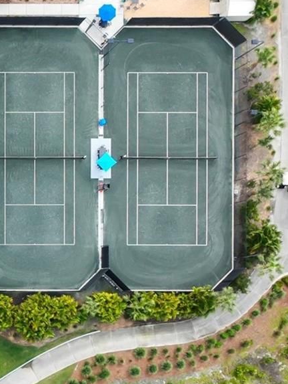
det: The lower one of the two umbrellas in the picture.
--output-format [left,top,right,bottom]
[95,151,116,172]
